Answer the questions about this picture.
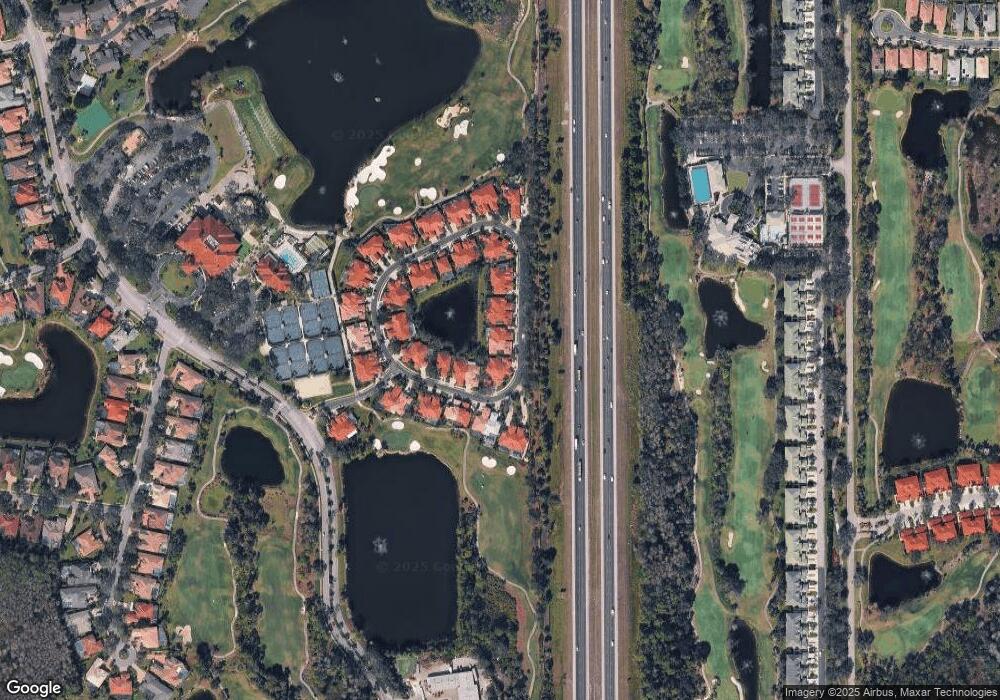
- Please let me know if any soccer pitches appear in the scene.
No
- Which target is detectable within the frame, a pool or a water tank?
pool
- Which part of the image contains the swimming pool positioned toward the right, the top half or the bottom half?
top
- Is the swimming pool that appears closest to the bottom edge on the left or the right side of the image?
left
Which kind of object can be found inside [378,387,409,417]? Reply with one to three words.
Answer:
house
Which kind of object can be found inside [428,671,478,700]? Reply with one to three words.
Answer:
building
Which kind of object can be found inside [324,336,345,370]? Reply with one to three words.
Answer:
tennis court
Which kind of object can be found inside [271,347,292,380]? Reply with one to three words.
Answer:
tennis court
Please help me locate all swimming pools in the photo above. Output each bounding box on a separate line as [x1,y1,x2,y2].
[275,241,306,272]
[688,161,727,207]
